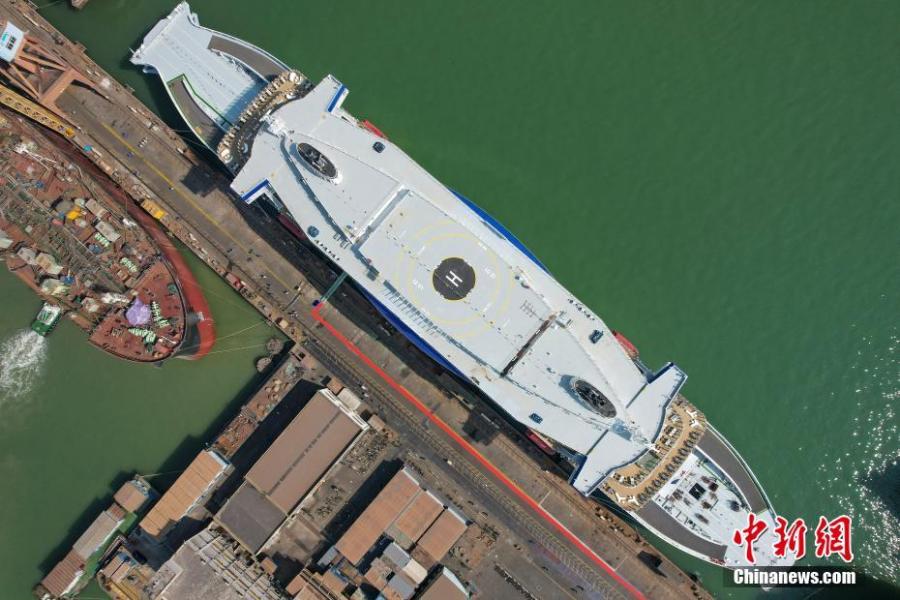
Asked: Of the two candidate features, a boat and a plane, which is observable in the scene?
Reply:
boat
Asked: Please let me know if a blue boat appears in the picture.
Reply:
No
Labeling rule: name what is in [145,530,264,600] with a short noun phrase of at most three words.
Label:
building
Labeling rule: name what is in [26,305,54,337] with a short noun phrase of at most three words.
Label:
boat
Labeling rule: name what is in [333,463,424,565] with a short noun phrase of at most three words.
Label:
building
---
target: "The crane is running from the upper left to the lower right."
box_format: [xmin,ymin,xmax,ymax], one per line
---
[0,11,106,128]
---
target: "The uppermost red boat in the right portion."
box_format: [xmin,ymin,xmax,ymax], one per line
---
[613,333,635,360]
